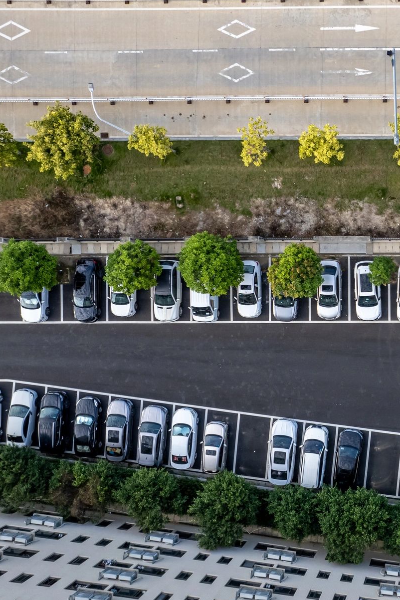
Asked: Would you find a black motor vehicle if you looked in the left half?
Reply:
Yes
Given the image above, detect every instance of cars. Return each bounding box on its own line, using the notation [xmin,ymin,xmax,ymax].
[270,287,299,322]
[268,416,299,486]
[17,285,51,323]
[314,258,344,320]
[102,398,136,462]
[136,404,171,468]
[6,387,42,449]
[201,419,230,474]
[70,396,104,457]
[149,259,183,322]
[69,260,103,323]
[300,423,330,490]
[352,260,382,321]
[106,283,139,318]
[168,407,201,470]
[333,427,364,488]
[234,259,265,318]
[36,390,73,454]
